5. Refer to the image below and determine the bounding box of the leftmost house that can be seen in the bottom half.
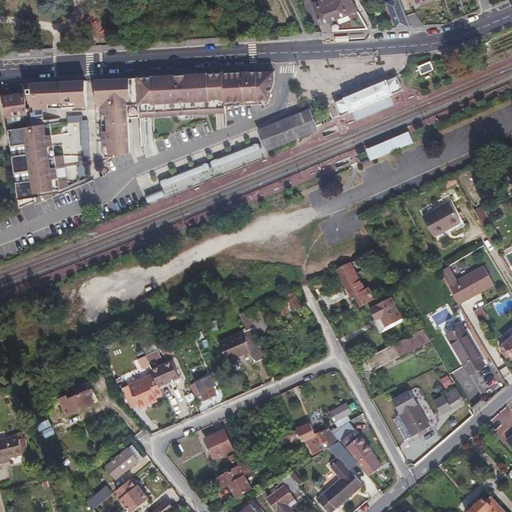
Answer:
[0,432,29,468]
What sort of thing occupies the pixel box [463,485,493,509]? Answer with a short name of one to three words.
shed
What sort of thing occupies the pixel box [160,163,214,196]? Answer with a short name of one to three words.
building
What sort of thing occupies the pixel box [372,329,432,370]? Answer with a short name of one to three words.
barn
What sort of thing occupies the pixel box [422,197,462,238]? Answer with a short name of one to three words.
house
